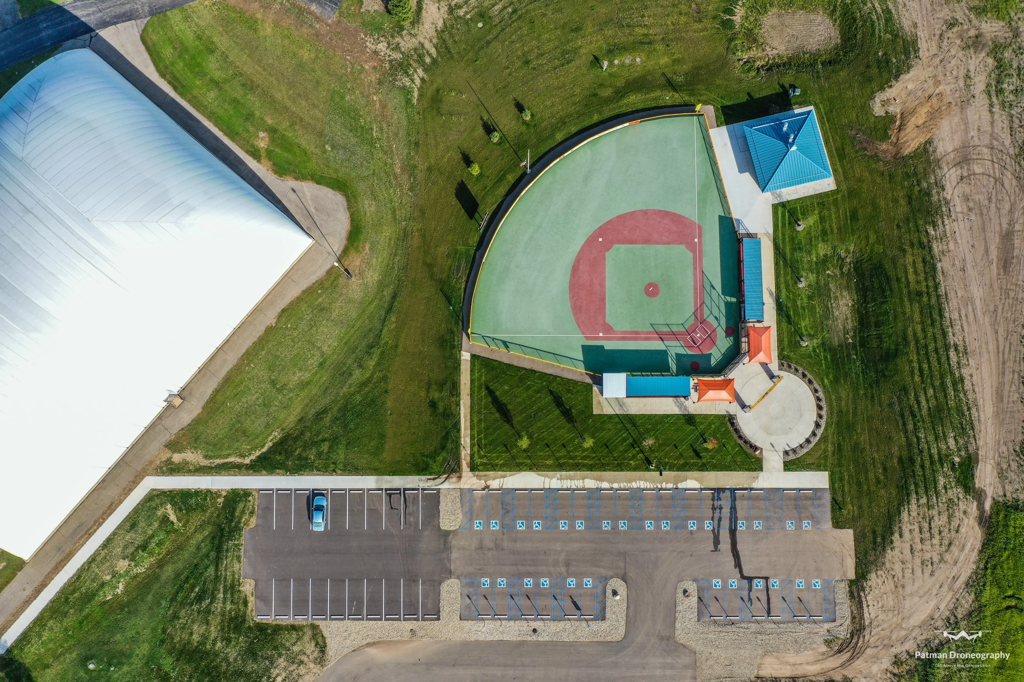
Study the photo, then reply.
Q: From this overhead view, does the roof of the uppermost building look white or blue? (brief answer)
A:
blue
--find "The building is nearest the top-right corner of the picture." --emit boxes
[743,109,832,193]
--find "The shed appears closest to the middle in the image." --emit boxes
[602,373,627,398]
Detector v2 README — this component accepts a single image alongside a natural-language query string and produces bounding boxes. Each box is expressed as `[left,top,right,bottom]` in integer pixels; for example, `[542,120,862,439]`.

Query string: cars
[312,497,327,530]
